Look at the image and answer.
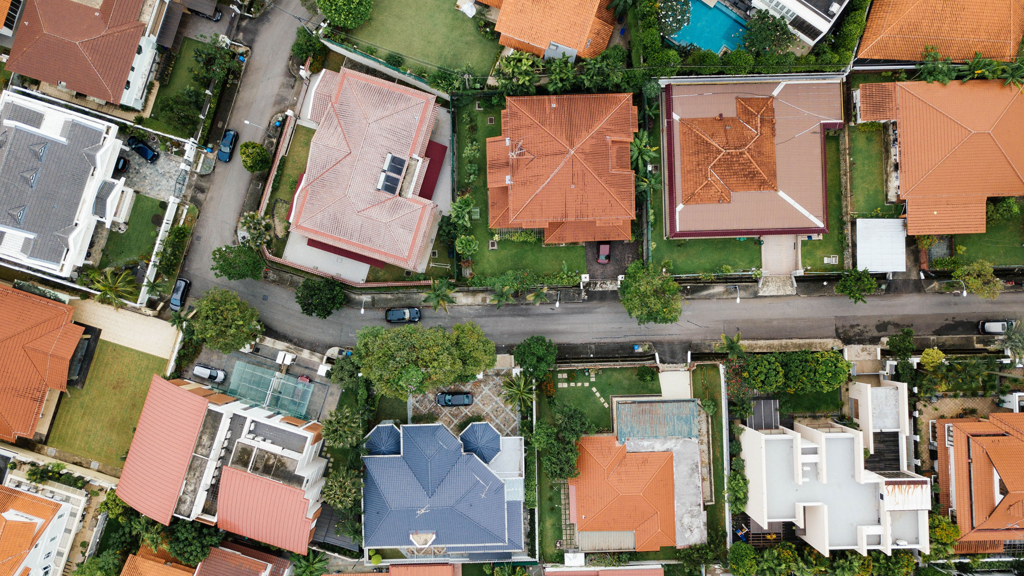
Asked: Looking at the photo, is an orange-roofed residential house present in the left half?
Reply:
Yes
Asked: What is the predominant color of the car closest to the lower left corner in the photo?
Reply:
white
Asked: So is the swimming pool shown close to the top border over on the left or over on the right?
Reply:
right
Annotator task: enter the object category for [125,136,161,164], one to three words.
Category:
car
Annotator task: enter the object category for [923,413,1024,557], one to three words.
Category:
house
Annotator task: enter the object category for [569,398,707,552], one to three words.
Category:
house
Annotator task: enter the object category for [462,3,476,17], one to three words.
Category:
umbrella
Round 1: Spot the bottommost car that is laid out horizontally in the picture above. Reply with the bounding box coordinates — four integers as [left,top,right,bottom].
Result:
[437,391,473,408]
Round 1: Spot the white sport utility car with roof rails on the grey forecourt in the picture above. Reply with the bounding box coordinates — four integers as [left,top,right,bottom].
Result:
[191,363,228,383]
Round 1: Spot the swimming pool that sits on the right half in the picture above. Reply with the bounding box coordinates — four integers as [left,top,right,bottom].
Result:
[676,0,746,53]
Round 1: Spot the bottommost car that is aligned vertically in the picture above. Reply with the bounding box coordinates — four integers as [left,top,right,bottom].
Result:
[295,366,314,399]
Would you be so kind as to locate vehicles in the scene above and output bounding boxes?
[219,129,239,163]
[191,9,227,24]
[125,136,161,164]
[385,307,421,322]
[295,366,314,399]
[977,319,1012,336]
[596,241,612,265]
[437,391,473,408]
[114,156,138,174]
[191,363,228,383]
